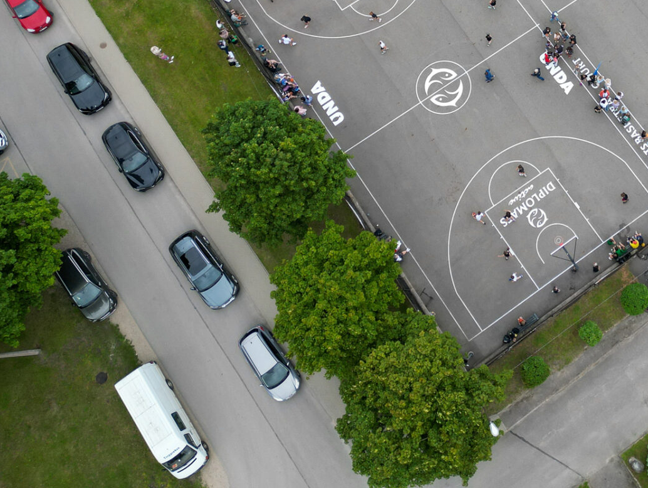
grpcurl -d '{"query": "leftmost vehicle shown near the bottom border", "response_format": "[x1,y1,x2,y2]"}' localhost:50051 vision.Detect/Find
[112,359,210,480]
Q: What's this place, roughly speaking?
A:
sports ground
